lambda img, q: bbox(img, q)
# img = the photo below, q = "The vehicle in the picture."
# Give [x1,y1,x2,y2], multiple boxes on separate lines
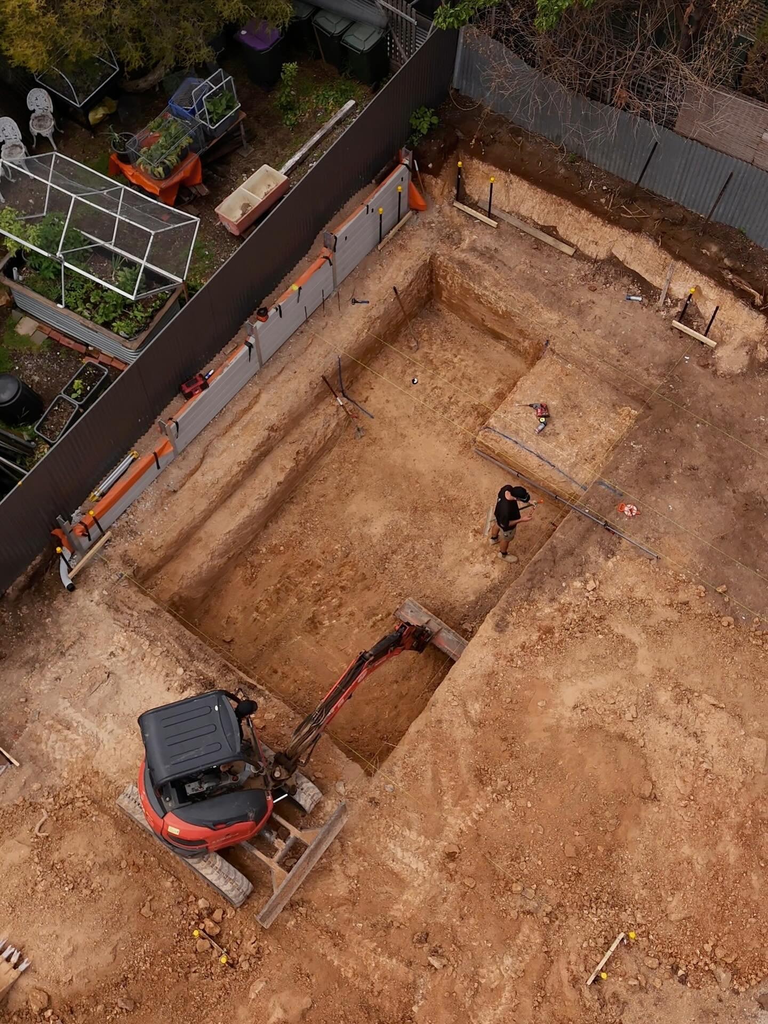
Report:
[114,591,474,927]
